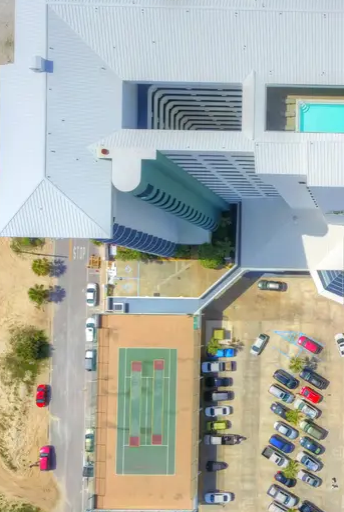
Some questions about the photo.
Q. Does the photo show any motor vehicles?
Yes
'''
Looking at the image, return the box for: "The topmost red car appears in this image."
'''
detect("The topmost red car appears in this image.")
[296,334,322,353]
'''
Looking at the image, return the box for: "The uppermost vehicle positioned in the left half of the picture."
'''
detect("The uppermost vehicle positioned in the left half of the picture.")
[85,282,99,306]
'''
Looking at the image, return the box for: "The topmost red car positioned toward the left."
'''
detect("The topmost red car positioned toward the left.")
[36,382,49,407]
